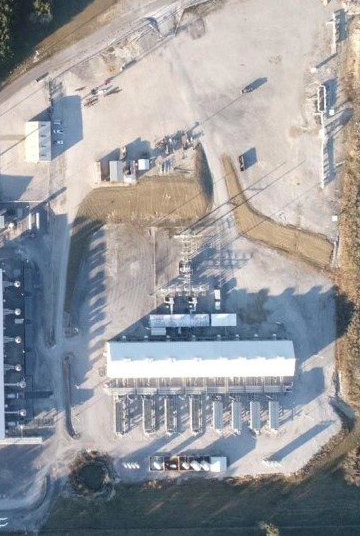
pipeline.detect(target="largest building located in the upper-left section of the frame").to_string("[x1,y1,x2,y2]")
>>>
[24,121,51,162]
